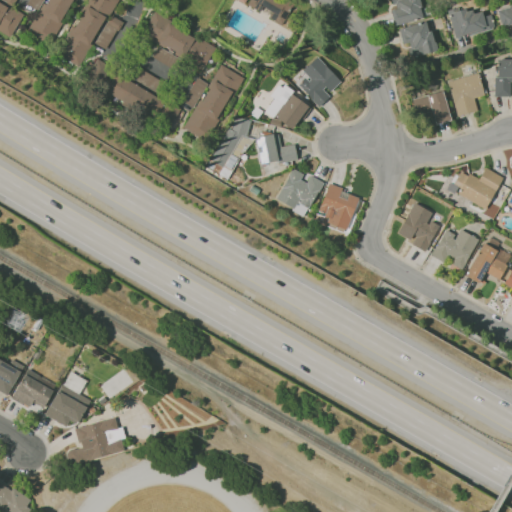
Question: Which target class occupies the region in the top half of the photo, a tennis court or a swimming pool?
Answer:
swimming pool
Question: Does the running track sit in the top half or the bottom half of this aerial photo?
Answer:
bottom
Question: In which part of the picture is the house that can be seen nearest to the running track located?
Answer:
bottom left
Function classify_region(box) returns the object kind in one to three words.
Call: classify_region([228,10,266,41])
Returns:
swimming pool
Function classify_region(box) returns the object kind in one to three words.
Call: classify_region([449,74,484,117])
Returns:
house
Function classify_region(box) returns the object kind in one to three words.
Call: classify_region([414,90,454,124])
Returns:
house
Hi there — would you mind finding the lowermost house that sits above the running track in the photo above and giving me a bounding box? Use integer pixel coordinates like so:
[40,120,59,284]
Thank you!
[69,418,126,462]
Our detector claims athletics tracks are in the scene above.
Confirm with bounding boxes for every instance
[78,461,261,512]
